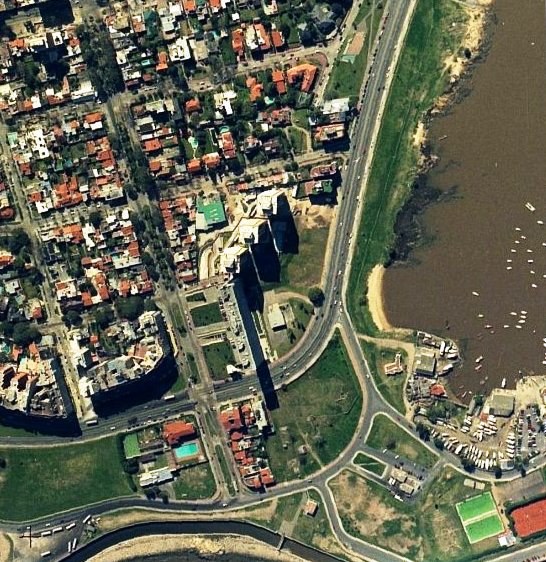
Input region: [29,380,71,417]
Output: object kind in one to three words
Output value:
building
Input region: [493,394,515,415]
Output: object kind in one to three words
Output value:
shed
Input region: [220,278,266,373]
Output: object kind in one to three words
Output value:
building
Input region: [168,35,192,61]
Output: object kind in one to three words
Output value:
house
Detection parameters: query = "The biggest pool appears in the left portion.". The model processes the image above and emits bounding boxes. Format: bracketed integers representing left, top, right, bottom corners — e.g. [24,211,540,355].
[172,439,203,466]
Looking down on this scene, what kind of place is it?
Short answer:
residential area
